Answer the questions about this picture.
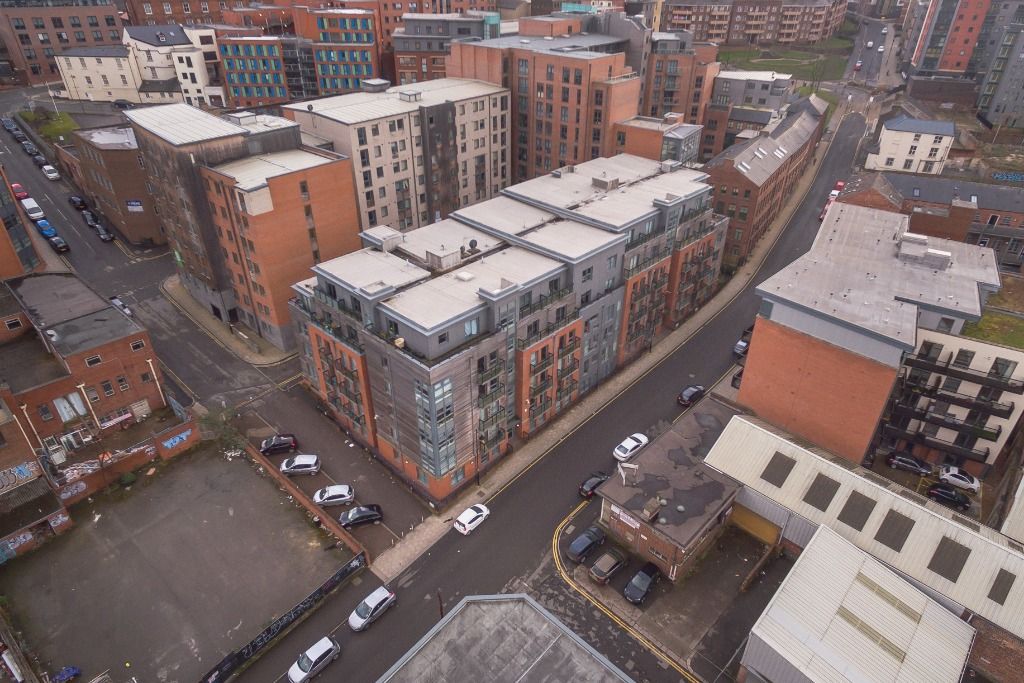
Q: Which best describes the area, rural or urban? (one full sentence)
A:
This place is urban.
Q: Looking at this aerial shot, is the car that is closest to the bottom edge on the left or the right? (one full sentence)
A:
It is on the left.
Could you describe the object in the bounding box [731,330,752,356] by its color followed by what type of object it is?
gray car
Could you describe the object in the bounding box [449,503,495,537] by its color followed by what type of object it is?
white car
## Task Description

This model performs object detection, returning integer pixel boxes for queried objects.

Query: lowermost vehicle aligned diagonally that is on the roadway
[284,636,342,683]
